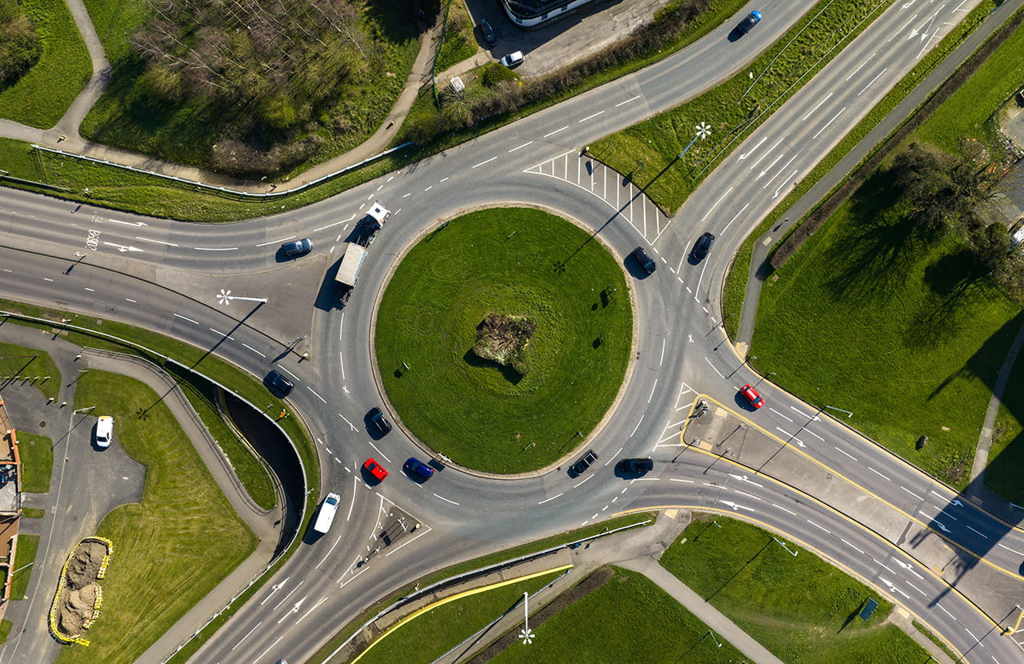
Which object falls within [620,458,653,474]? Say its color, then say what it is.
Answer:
black car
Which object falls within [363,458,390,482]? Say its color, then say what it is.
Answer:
red car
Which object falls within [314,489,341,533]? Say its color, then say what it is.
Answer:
white vehicle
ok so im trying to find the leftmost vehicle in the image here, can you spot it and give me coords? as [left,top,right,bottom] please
[97,415,117,446]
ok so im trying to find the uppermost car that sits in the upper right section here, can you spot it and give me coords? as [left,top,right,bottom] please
[733,10,761,37]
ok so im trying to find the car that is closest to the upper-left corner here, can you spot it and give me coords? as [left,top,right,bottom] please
[281,239,314,256]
